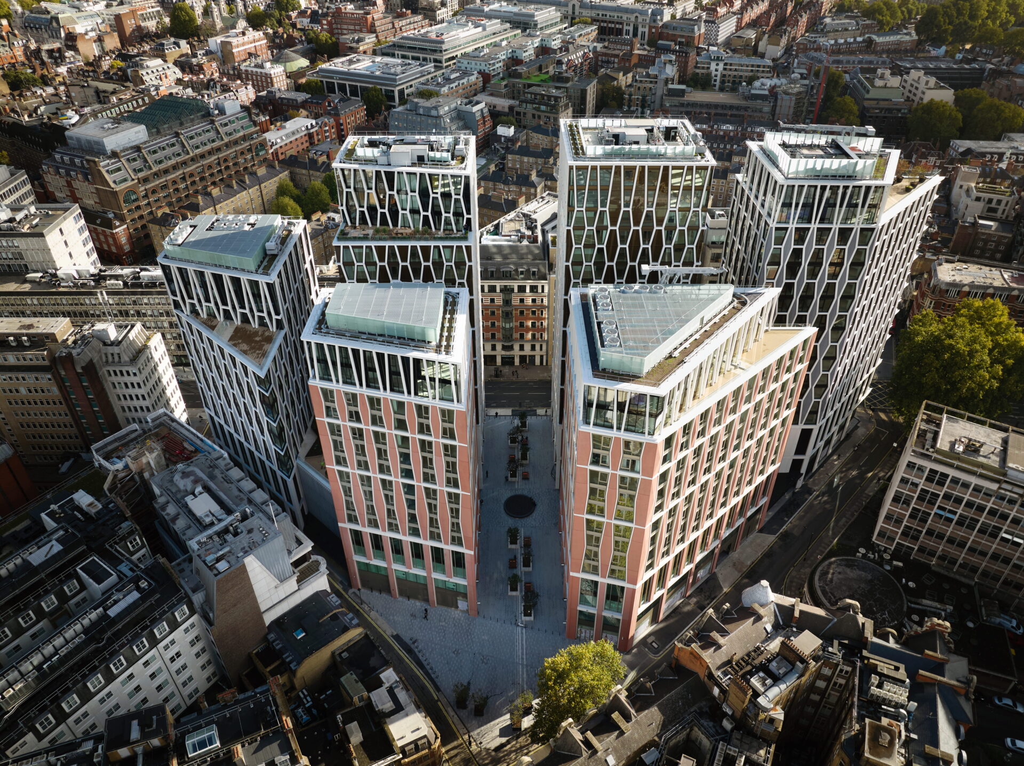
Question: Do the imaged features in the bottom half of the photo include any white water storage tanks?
No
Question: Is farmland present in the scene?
No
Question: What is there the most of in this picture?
buildings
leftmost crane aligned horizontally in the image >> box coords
[638,262,725,276]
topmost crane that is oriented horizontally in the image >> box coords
[780,121,876,156]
